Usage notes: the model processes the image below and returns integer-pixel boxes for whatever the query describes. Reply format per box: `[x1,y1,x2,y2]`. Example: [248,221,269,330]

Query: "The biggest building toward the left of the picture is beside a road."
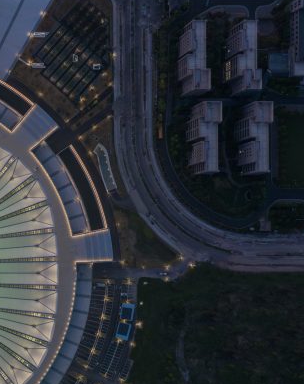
[93,143,117,192]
